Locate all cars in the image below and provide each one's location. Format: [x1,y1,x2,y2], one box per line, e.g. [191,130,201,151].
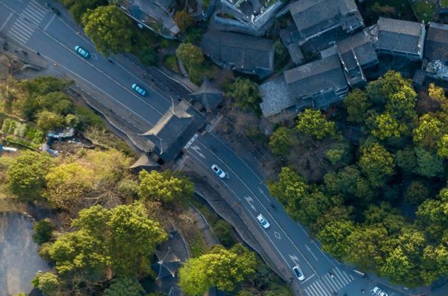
[292,265,304,281]
[373,286,389,296]
[74,44,88,58]
[211,163,227,178]
[256,213,270,228]
[131,82,147,96]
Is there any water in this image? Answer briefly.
No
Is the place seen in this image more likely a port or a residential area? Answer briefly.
residential area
